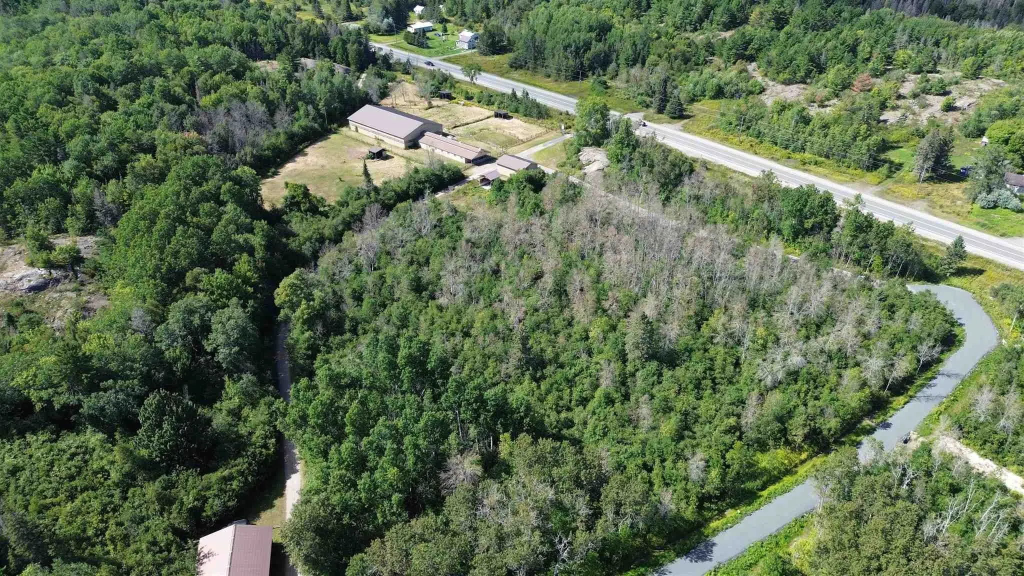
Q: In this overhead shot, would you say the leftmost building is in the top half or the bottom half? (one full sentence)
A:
You can find the leftmost building in the bottom half.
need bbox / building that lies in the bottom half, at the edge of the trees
[192,519,275,576]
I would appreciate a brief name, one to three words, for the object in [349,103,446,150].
barn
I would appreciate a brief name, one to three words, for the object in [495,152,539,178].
building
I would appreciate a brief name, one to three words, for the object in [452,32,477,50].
house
